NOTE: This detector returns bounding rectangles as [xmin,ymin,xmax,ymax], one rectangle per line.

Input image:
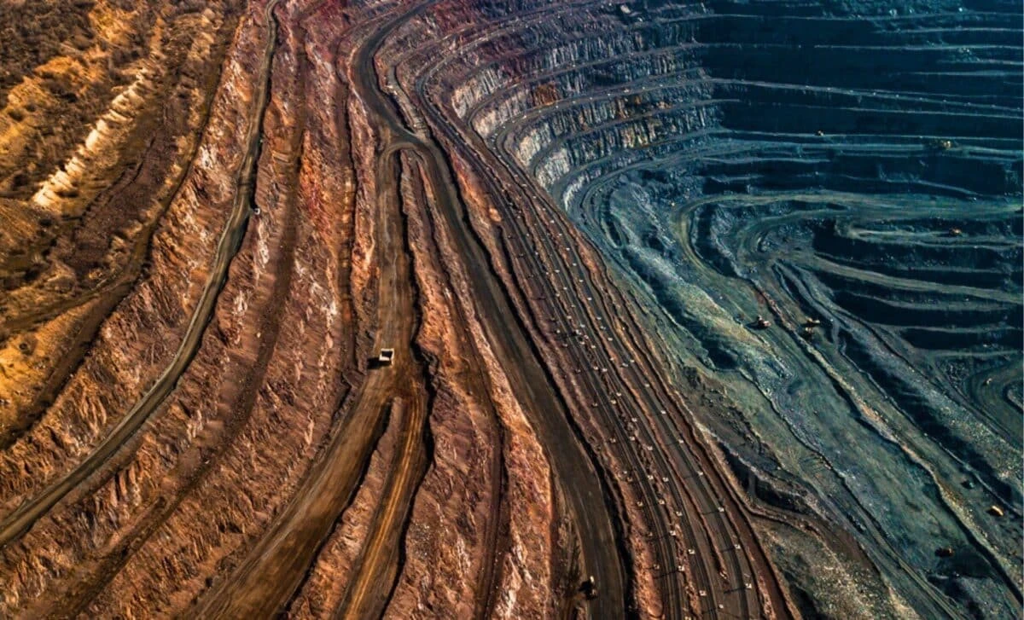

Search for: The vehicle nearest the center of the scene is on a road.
[376,347,393,368]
